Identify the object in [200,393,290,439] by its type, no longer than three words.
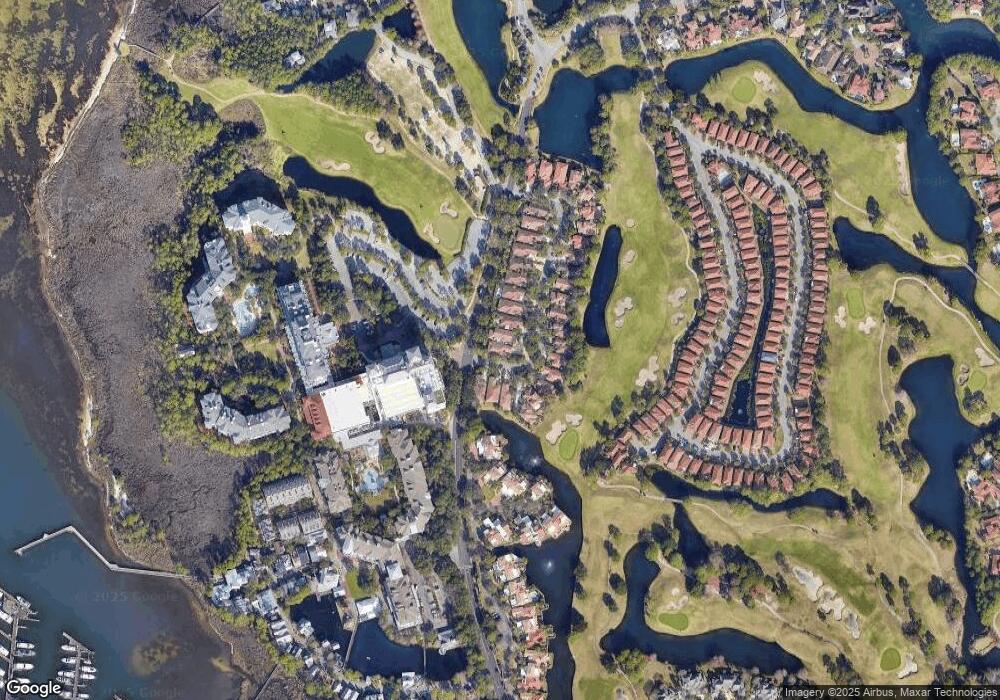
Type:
building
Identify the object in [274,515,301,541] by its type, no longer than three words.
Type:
building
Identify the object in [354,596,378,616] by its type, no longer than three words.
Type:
house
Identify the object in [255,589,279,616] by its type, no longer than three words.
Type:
house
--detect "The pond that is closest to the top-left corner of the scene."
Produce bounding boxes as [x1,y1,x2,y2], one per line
[277,28,376,94]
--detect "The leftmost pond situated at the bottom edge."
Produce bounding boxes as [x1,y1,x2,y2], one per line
[292,595,470,680]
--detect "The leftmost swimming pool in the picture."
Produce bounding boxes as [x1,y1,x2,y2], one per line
[234,284,260,334]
